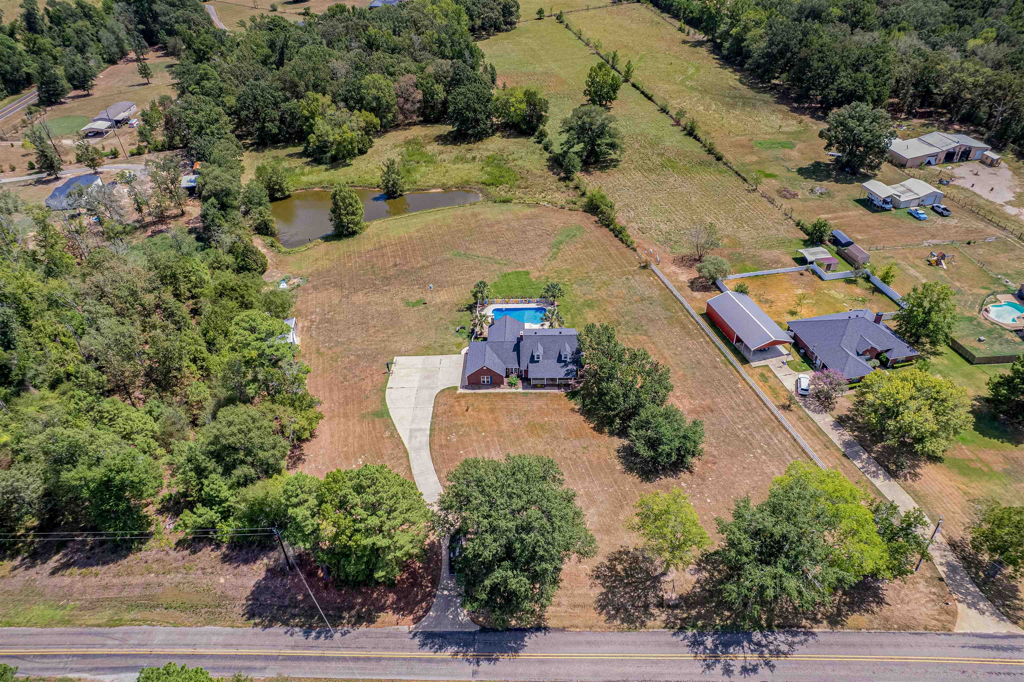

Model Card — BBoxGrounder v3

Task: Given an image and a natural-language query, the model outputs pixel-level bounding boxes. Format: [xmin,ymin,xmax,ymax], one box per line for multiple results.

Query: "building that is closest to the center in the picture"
[465,311,580,387]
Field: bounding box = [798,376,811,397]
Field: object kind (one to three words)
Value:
vehicle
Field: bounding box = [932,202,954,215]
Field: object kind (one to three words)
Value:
vehicle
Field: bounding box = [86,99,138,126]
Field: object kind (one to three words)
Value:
house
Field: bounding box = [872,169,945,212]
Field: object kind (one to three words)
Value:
building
